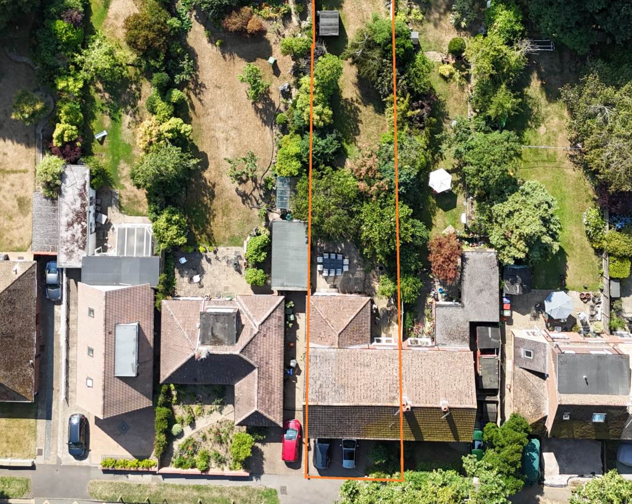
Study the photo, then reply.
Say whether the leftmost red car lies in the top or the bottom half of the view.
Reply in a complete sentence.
The bottom half of the photo is where the leftmost red car is.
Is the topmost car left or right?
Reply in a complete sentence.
The topmost car sits on the left side.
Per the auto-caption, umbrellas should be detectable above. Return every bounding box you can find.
[429,167,452,193]
[543,289,575,322]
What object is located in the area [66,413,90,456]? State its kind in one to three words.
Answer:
car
